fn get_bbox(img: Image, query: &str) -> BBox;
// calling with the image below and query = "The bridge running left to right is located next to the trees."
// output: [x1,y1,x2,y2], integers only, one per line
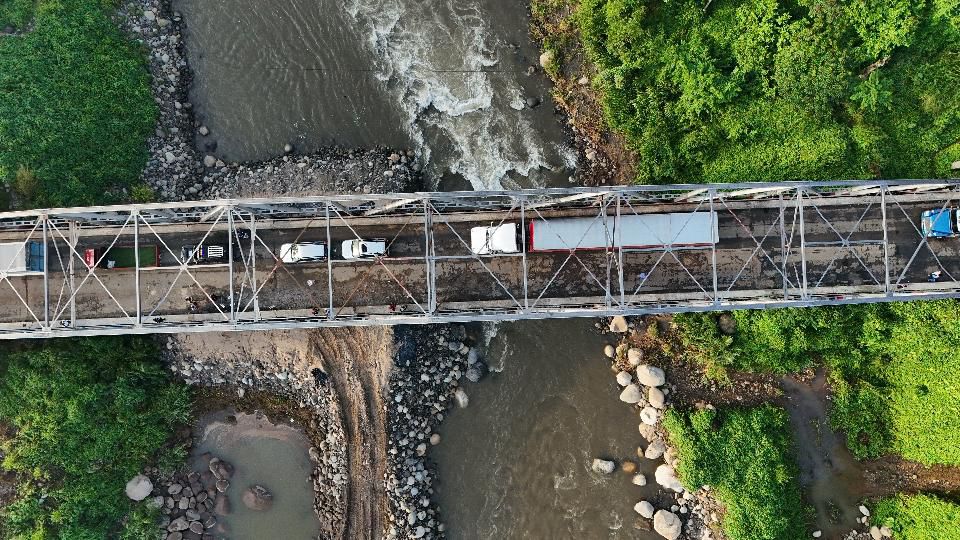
[0,178,960,339]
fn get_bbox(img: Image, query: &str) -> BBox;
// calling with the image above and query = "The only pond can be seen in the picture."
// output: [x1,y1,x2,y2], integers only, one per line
[199,423,316,540]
